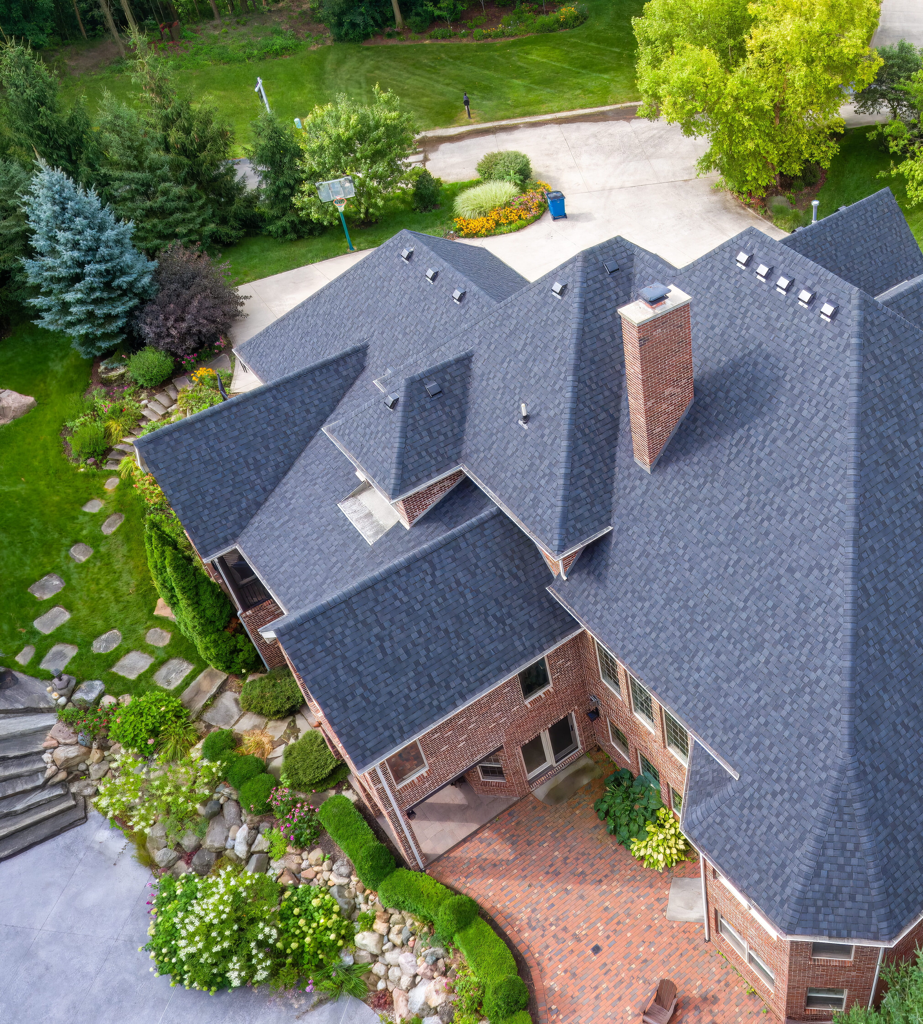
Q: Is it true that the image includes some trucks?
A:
No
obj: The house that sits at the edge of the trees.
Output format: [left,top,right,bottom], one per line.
[133,174,923,1024]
